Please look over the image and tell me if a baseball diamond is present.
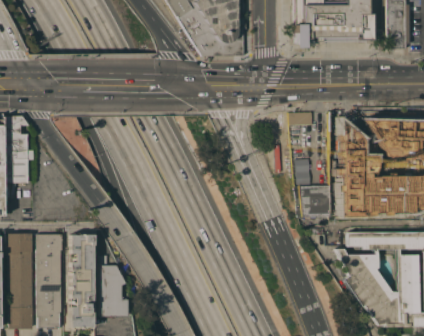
No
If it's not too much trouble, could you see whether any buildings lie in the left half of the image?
Yes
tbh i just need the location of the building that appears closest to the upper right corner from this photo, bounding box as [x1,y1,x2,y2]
[382,0,410,52]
